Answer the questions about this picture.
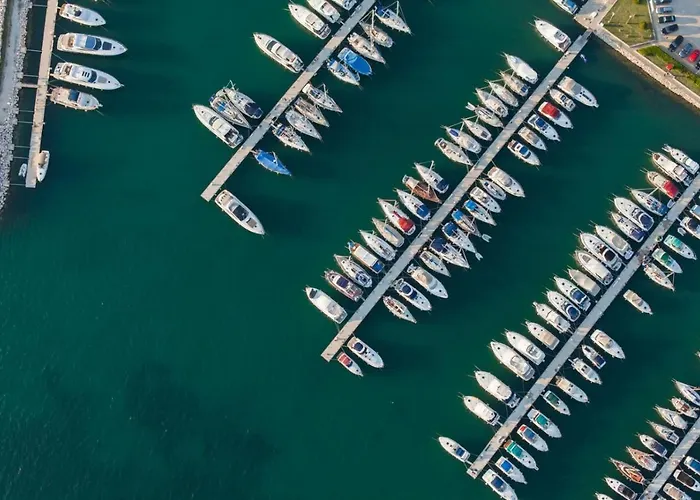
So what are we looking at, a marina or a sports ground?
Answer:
marina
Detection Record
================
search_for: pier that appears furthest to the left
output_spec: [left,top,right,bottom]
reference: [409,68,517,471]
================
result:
[25,0,58,188]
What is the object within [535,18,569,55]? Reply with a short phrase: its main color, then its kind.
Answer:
white boat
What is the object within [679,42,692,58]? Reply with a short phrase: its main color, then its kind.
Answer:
blue vehicle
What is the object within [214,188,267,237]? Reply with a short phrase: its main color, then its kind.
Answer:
white boat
